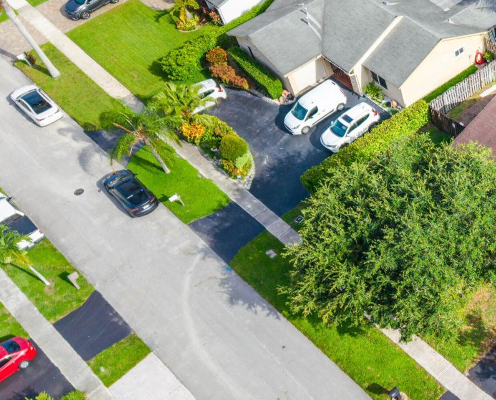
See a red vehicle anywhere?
Yes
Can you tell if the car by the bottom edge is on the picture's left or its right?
left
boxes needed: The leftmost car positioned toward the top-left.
[6,80,58,120]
